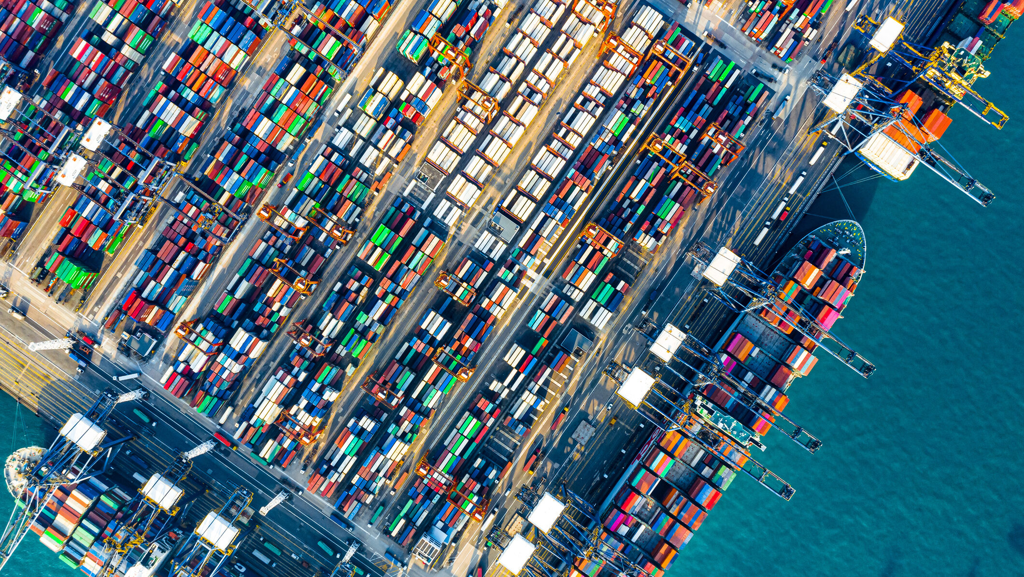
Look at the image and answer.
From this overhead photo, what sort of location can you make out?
port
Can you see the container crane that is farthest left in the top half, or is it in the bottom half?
bottom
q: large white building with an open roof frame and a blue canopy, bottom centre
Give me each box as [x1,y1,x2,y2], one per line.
[411,527,454,566]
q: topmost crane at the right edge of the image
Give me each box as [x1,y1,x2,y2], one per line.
[839,5,1004,127]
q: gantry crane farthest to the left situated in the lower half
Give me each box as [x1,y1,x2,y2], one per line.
[0,392,141,569]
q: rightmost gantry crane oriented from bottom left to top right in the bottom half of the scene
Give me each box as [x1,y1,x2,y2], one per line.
[171,487,263,577]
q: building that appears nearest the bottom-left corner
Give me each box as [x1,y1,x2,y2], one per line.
[114,329,160,356]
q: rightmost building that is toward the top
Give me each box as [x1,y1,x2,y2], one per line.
[488,211,520,243]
